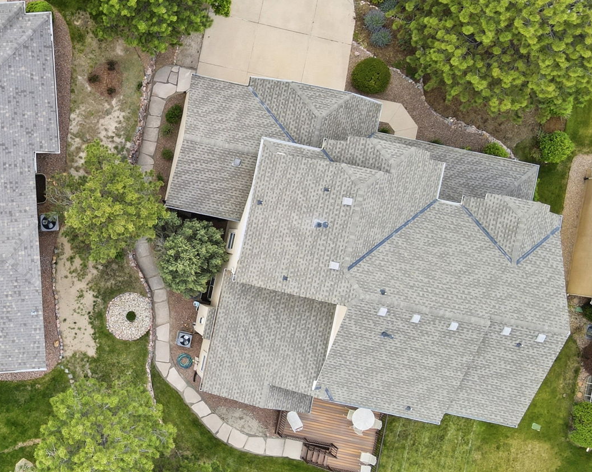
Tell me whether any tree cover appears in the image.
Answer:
Yes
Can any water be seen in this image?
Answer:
No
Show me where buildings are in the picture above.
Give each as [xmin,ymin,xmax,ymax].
[0,0,62,375]
[156,72,571,429]
[566,175,592,297]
